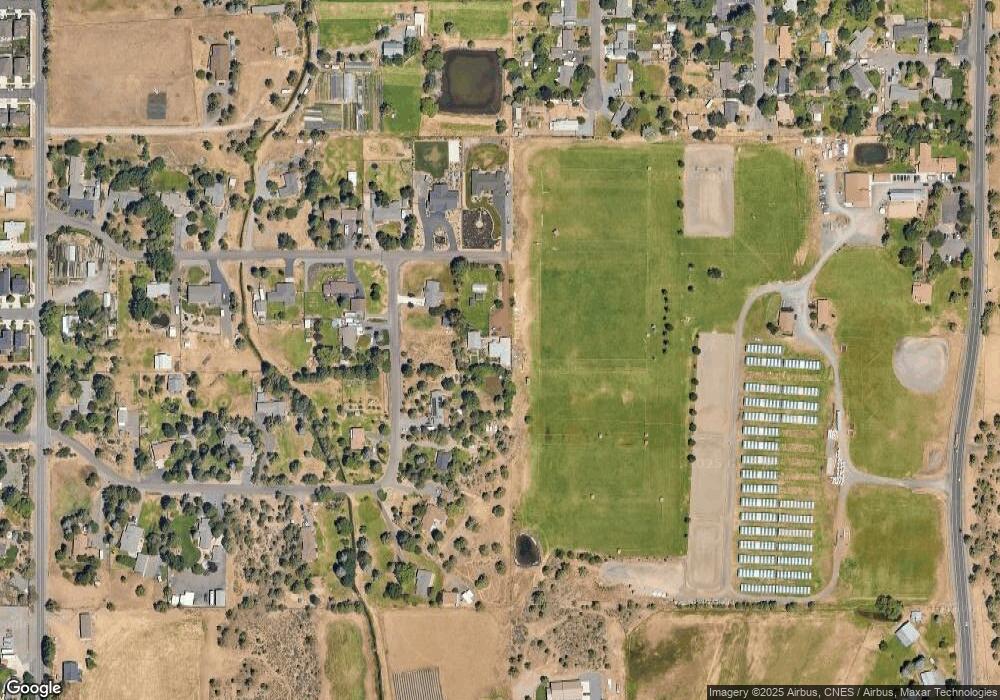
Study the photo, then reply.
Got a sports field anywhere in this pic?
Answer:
Yes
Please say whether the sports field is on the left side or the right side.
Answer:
right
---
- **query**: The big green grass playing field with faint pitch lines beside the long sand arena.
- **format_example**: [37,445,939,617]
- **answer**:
[520,146,806,555]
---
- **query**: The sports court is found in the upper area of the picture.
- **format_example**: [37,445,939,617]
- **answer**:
[147,93,166,119]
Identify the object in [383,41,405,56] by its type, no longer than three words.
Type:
house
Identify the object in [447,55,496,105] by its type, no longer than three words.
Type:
pond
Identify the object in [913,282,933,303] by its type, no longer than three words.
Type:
building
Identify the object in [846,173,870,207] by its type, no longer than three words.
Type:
barn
